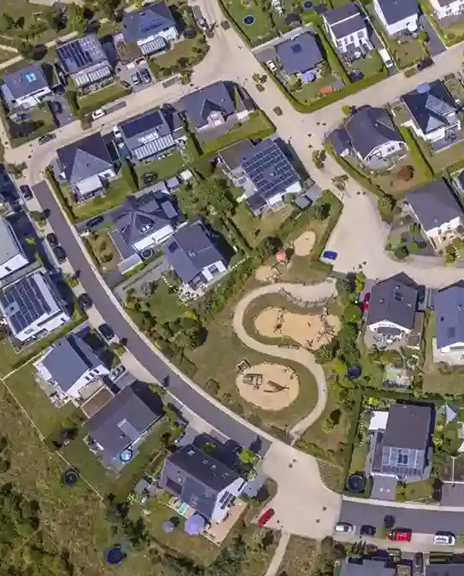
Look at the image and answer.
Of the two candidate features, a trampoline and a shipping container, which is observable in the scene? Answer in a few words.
trampoline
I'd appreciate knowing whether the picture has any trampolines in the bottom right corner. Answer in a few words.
Yes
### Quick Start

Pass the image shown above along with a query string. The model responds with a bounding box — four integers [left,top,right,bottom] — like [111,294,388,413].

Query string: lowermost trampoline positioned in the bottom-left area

[104,545,125,564]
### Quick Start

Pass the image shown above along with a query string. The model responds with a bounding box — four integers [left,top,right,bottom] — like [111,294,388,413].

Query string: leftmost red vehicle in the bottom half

[256,508,276,526]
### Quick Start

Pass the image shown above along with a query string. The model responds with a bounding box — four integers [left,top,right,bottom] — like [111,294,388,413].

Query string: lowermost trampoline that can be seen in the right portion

[346,473,365,493]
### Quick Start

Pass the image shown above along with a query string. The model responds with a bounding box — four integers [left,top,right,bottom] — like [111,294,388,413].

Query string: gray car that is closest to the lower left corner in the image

[109,363,126,378]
